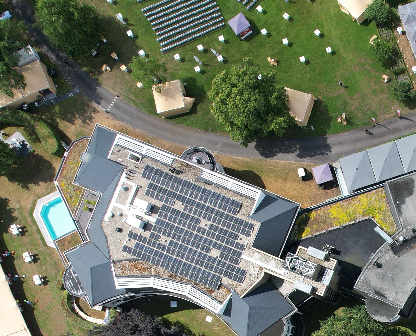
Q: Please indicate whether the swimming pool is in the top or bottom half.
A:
bottom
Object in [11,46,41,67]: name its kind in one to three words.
building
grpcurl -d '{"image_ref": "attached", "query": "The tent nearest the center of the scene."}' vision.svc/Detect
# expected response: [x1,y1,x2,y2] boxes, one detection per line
[153,79,195,117]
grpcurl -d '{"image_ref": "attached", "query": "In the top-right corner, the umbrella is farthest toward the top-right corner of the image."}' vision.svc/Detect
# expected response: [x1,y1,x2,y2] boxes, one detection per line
[398,1,416,25]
